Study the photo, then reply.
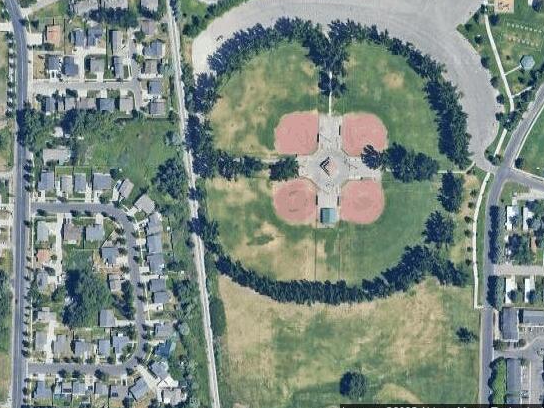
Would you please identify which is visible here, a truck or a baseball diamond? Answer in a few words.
baseball diamond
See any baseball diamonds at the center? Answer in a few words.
Yes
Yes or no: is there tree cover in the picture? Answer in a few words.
Yes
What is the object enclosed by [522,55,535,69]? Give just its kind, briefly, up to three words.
gazebo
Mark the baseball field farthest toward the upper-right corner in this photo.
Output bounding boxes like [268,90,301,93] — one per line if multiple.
[339,48,450,157]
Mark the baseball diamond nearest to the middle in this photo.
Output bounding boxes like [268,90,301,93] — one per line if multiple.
[219,176,319,279]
